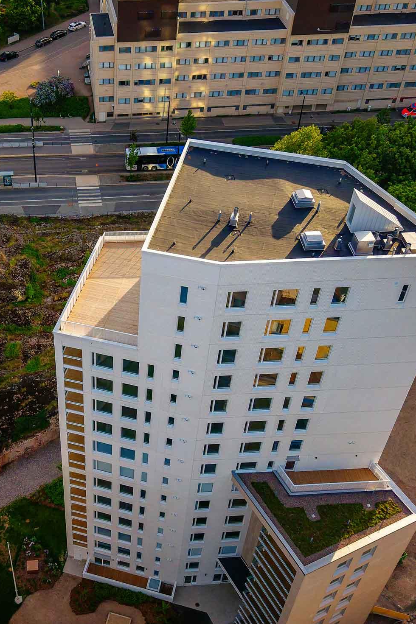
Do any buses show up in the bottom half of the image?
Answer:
No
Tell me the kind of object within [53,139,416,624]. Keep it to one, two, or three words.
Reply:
building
